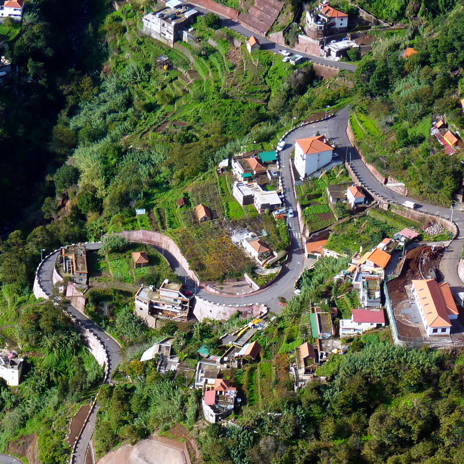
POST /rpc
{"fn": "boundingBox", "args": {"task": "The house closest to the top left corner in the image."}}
[0,0,26,24]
